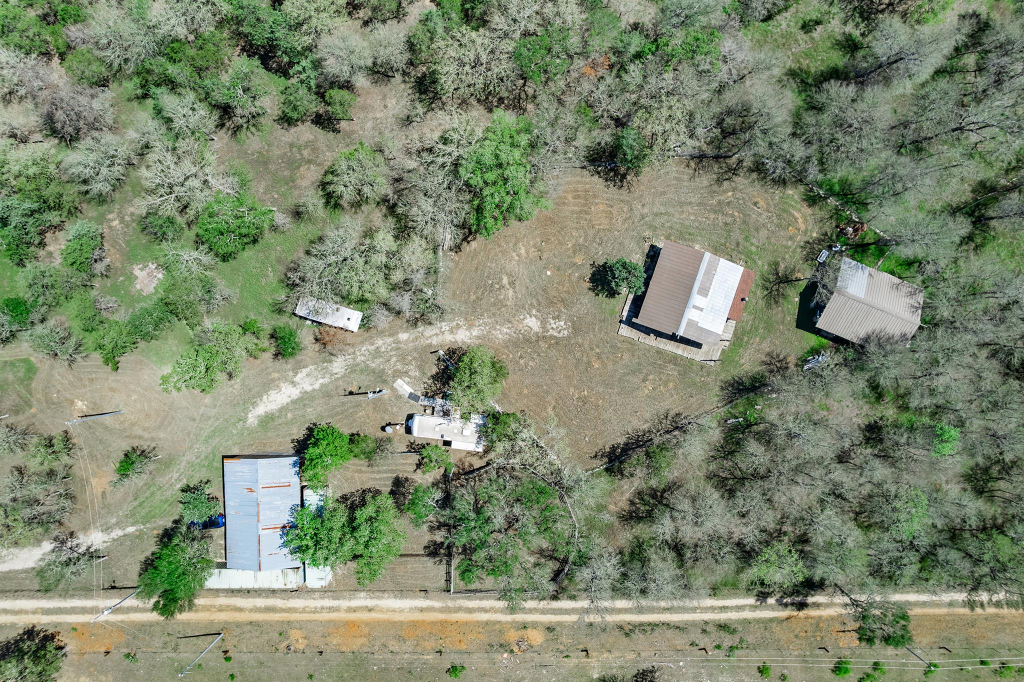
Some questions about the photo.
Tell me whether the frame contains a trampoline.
No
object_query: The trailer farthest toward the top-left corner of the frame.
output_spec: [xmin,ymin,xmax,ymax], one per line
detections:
[295,297,367,331]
